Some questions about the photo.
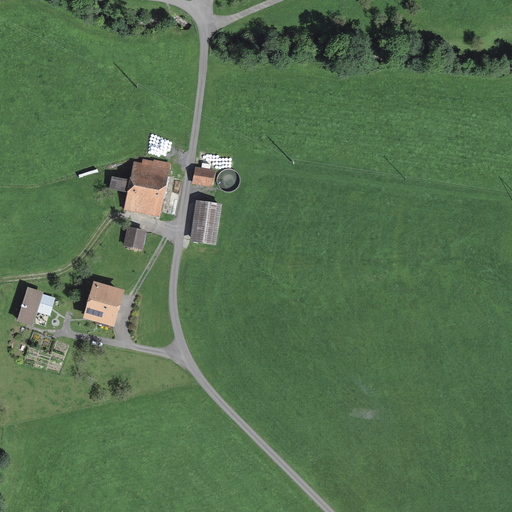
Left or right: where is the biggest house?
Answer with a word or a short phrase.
left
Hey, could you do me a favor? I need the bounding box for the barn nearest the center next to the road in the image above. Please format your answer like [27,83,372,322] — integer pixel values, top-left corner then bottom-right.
[190,200,222,245]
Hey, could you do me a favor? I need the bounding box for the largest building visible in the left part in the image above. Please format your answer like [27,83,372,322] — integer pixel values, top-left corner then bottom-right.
[123,160,170,217]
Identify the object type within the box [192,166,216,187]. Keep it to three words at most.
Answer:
shed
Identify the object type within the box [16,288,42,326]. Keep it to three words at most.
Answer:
house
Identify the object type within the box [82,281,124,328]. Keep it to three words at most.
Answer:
house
